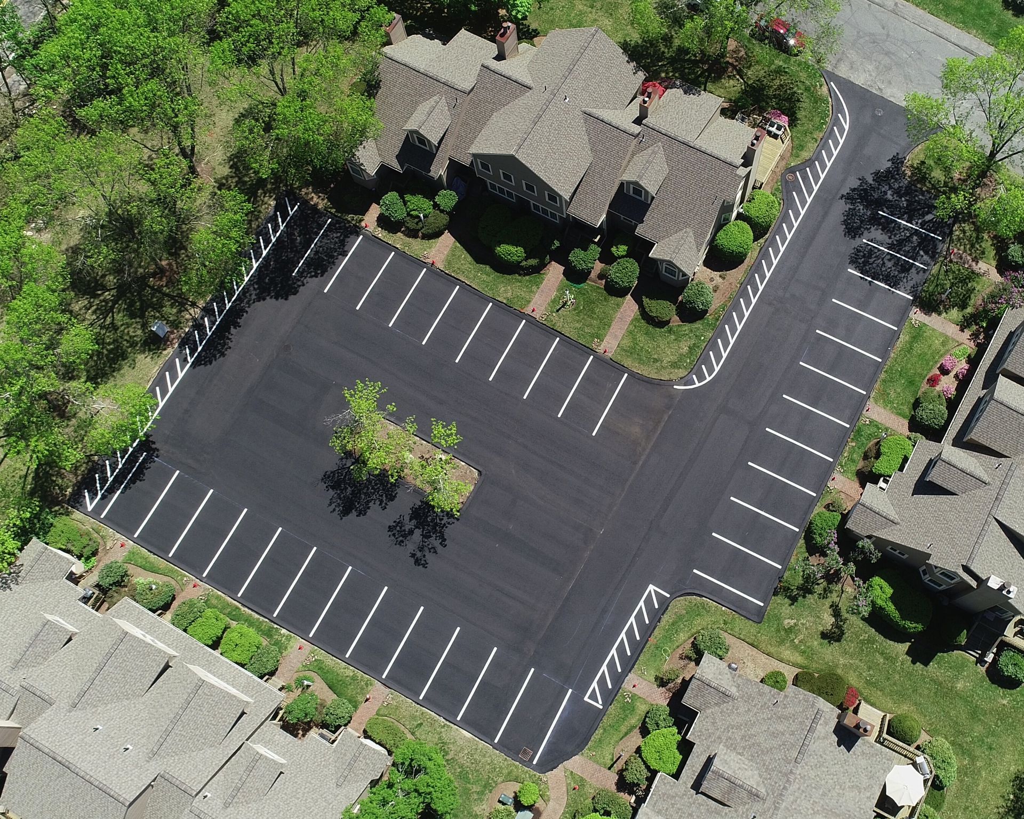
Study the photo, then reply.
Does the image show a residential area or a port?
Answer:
residential area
